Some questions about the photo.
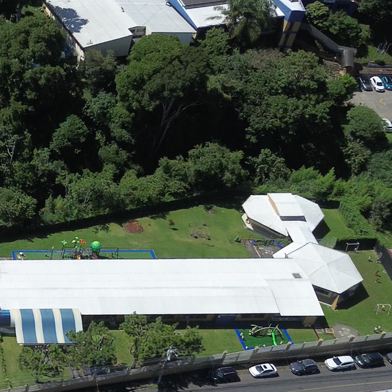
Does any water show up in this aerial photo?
No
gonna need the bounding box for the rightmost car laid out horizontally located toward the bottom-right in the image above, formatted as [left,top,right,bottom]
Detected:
[353,352,386,368]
